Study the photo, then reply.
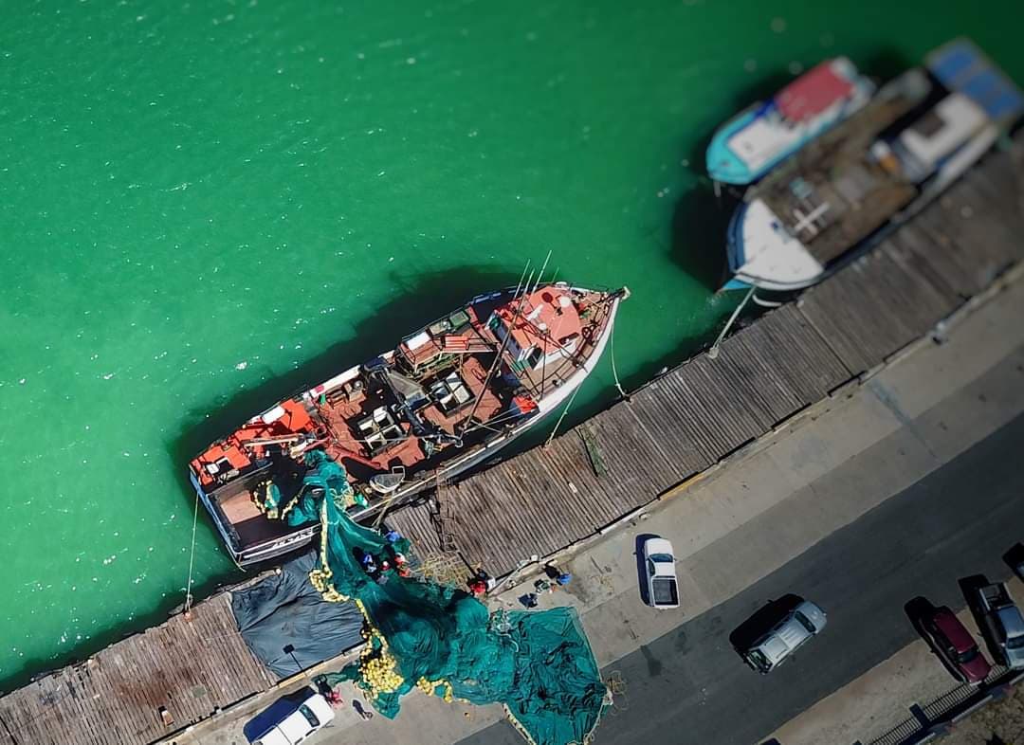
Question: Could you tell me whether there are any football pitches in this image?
No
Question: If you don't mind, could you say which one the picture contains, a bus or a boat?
boat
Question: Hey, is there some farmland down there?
No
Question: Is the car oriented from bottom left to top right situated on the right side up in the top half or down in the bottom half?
bottom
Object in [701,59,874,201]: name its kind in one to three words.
boat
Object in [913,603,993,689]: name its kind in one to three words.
car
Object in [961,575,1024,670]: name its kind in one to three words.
car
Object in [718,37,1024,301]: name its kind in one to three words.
boat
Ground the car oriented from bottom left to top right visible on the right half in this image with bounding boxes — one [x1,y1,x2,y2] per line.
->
[739,597,824,680]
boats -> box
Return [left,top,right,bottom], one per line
[718,37,1024,301]
[701,59,874,201]
[191,251,631,574]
